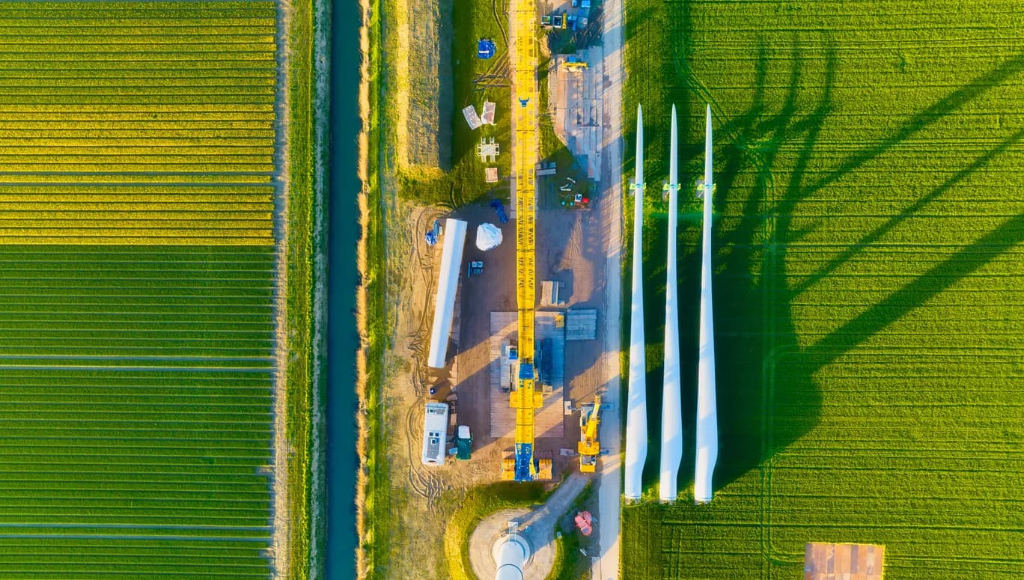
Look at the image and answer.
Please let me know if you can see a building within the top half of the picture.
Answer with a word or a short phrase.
No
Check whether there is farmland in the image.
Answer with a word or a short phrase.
Yes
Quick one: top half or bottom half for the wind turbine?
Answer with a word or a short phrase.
bottom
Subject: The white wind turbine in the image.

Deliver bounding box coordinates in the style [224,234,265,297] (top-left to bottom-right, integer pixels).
[494,521,531,580]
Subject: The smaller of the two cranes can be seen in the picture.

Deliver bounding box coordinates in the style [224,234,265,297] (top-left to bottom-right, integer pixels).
[560,392,616,473]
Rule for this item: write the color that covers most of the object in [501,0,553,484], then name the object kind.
yellow crane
